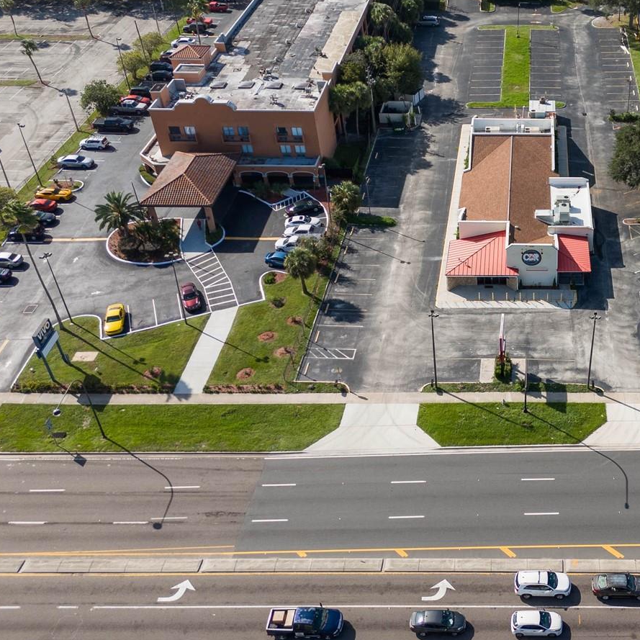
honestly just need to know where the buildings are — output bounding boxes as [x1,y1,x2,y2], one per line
[136,0,395,232]
[447,110,595,291]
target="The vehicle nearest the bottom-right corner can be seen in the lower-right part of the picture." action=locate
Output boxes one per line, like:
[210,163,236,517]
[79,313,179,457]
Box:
[593,569,640,598]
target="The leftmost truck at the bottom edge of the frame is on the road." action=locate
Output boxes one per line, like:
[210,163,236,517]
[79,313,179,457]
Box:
[264,602,343,637]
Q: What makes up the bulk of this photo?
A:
paved ground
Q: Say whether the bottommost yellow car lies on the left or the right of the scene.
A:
left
